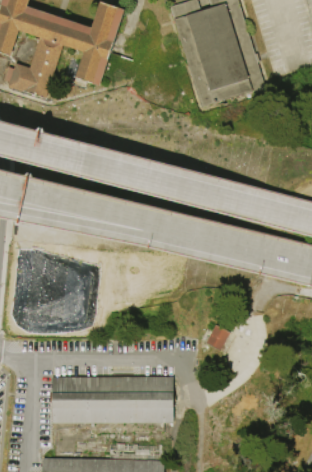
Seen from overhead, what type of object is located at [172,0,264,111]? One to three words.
building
